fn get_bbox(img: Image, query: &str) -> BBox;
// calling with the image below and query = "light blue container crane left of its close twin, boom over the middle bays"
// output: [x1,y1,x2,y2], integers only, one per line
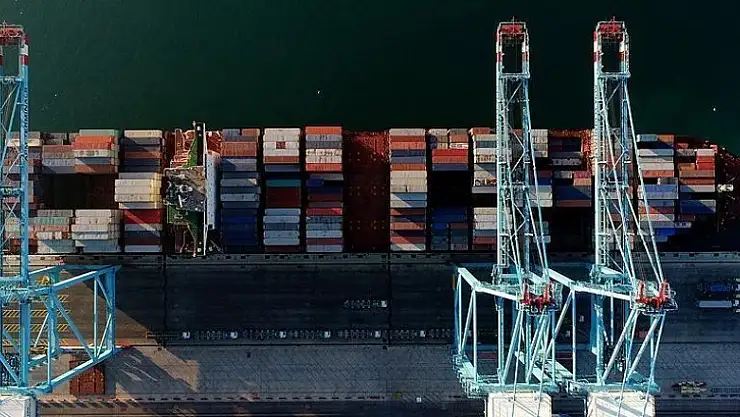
[439,15,556,417]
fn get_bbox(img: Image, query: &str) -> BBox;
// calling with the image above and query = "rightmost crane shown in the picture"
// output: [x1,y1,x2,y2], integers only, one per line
[520,15,669,417]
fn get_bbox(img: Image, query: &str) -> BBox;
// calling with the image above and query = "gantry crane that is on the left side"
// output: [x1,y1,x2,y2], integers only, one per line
[0,16,135,417]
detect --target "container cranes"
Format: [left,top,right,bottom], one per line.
[0,16,135,417]
[520,15,669,417]
[439,15,556,417]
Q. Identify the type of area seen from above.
port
